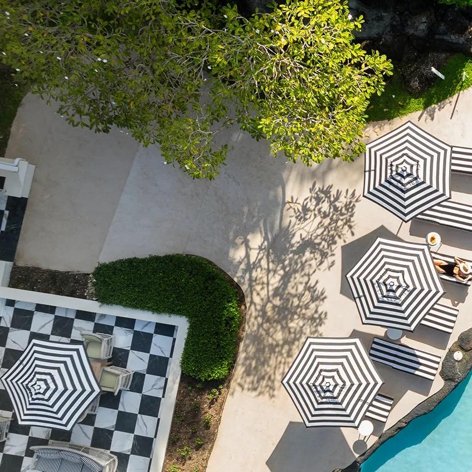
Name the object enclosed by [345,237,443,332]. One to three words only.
umbrella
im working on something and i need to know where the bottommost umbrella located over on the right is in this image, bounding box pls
[280,334,382,424]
